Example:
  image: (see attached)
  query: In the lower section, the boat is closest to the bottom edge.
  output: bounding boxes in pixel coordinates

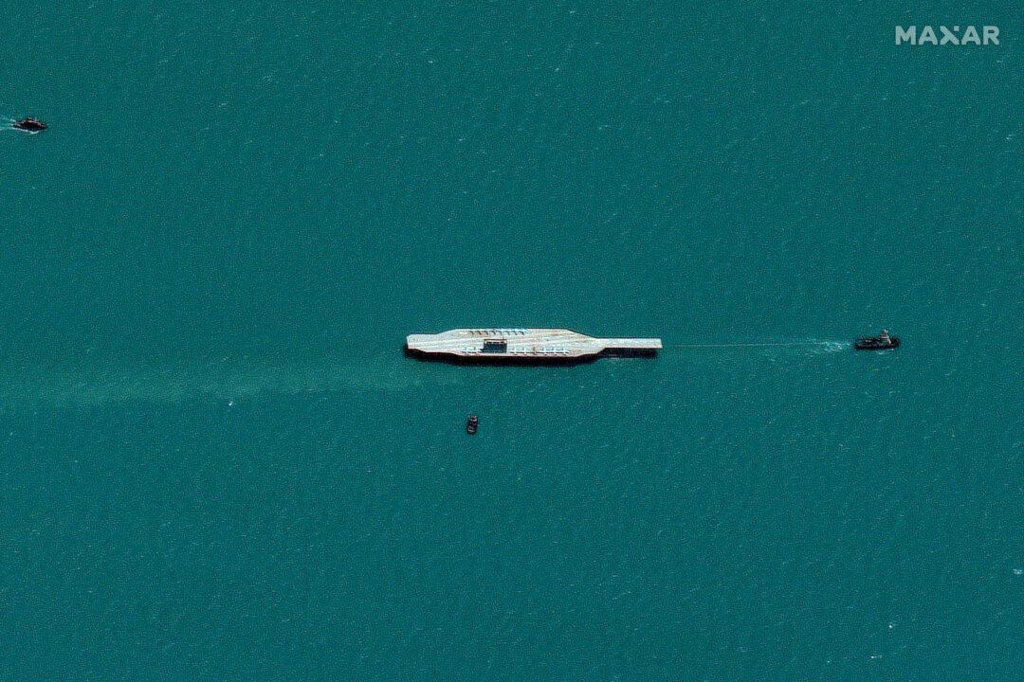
[466,415,478,436]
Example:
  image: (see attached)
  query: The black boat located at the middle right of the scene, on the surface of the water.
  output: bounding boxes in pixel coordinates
[856,331,900,350]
